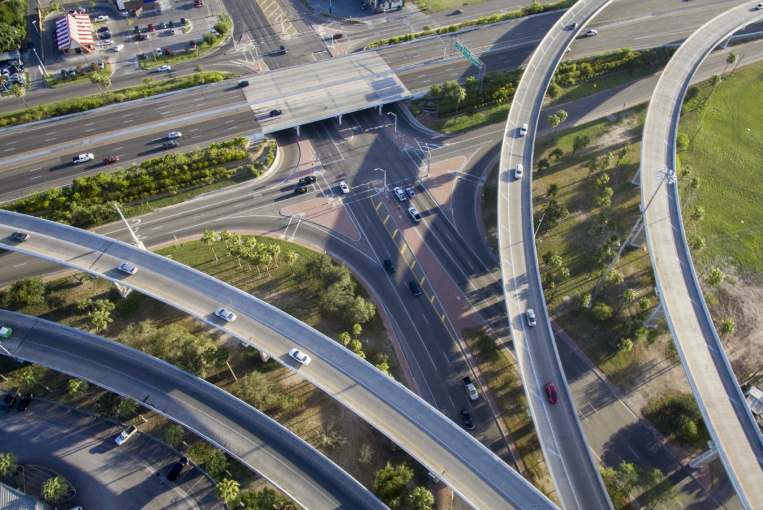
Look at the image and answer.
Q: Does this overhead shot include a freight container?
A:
No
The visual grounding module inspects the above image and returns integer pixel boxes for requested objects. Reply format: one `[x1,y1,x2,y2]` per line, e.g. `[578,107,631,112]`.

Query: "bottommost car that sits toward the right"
[460,408,475,430]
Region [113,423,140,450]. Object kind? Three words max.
truck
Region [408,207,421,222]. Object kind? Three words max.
vehicle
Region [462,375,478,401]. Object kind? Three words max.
vehicle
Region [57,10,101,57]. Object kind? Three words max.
building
